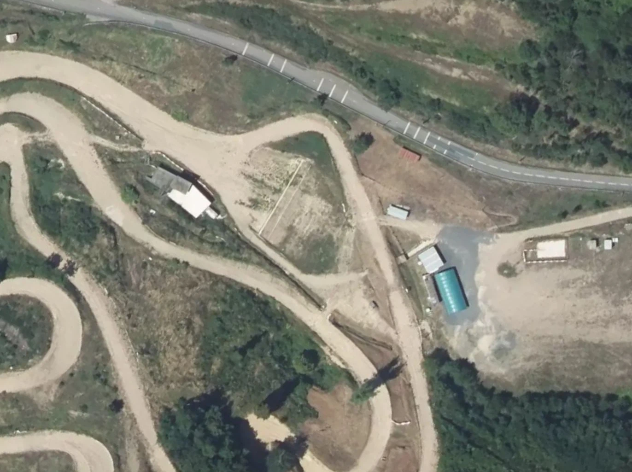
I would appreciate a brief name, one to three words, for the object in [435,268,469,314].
building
